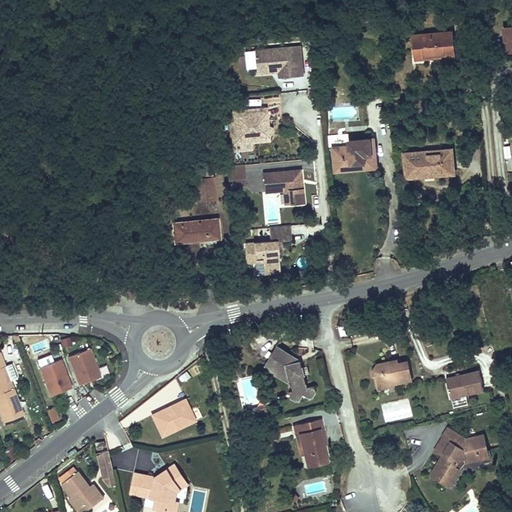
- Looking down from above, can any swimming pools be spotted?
Yes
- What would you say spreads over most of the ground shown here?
trees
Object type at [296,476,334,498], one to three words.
swimming pool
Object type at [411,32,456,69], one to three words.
house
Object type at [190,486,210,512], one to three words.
swimming pool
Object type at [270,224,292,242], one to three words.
shed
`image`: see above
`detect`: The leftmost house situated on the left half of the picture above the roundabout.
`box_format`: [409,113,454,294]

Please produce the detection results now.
[174,218,222,245]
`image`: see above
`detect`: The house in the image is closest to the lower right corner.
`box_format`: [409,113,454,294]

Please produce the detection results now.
[430,426,490,488]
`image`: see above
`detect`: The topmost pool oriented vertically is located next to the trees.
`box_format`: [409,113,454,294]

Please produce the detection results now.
[268,199,280,224]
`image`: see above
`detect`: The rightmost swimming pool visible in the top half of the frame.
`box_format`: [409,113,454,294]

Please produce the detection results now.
[331,105,359,120]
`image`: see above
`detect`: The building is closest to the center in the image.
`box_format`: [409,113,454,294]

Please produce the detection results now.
[244,241,282,274]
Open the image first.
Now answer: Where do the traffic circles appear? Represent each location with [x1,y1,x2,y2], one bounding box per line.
[127,311,190,374]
